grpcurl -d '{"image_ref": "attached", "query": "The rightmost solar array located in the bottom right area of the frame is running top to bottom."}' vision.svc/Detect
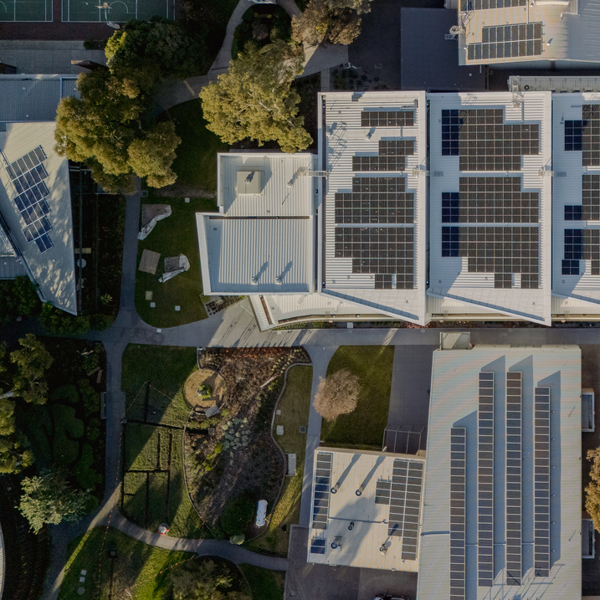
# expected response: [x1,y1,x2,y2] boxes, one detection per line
[535,387,549,576]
